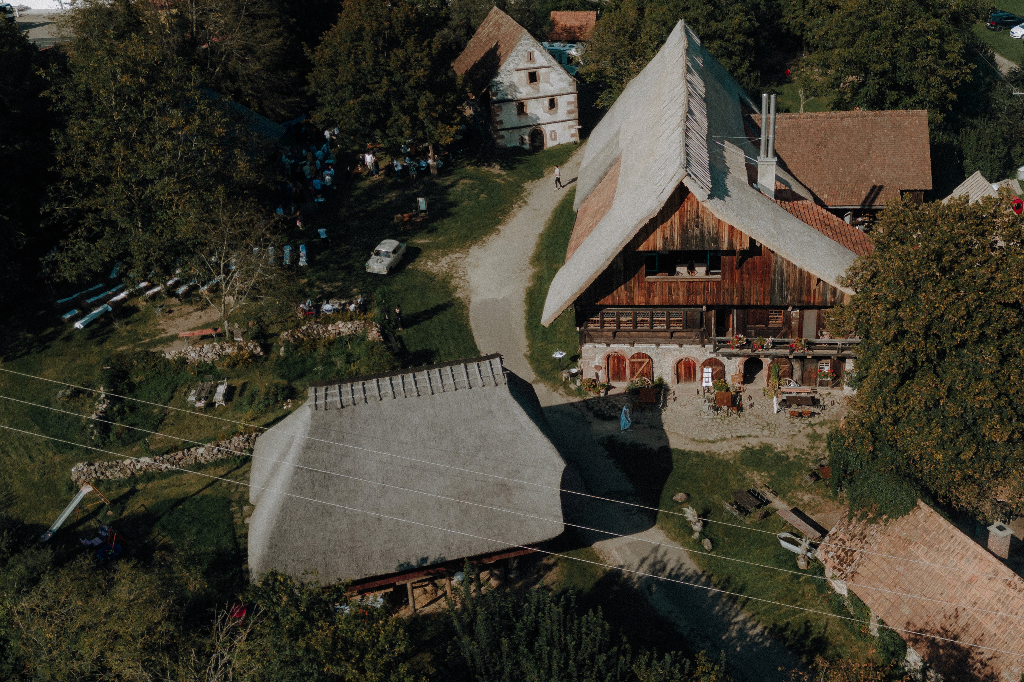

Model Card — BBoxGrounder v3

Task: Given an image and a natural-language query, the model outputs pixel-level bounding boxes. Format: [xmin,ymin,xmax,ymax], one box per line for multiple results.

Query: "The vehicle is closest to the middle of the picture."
[363,237,407,274]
